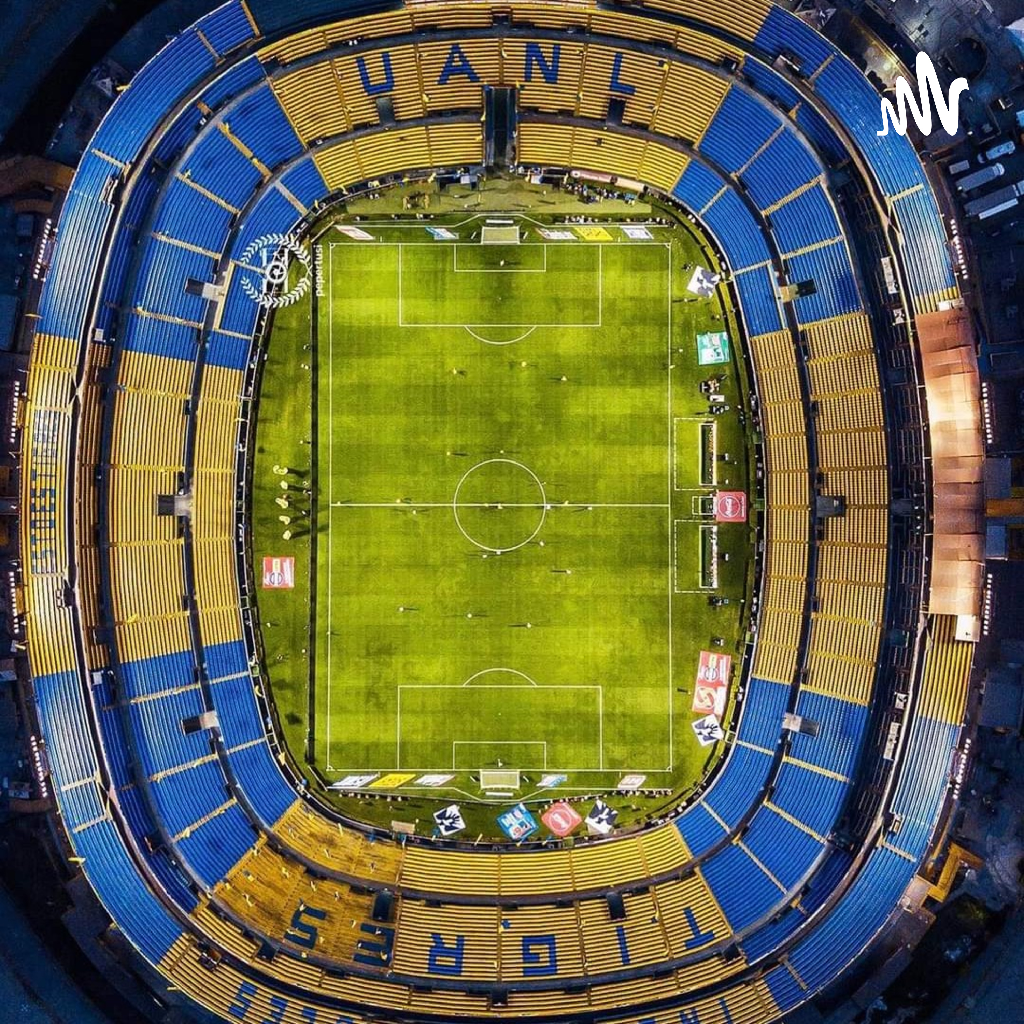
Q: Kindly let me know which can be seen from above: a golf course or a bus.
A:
bus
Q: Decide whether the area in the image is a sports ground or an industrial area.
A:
sports ground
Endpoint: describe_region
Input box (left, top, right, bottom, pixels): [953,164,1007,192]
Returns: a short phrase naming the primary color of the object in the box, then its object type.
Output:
blue truck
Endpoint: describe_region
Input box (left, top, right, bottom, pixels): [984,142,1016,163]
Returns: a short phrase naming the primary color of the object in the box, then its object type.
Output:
blue vehicle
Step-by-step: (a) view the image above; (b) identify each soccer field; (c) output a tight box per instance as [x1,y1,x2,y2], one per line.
[245,173,756,843]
